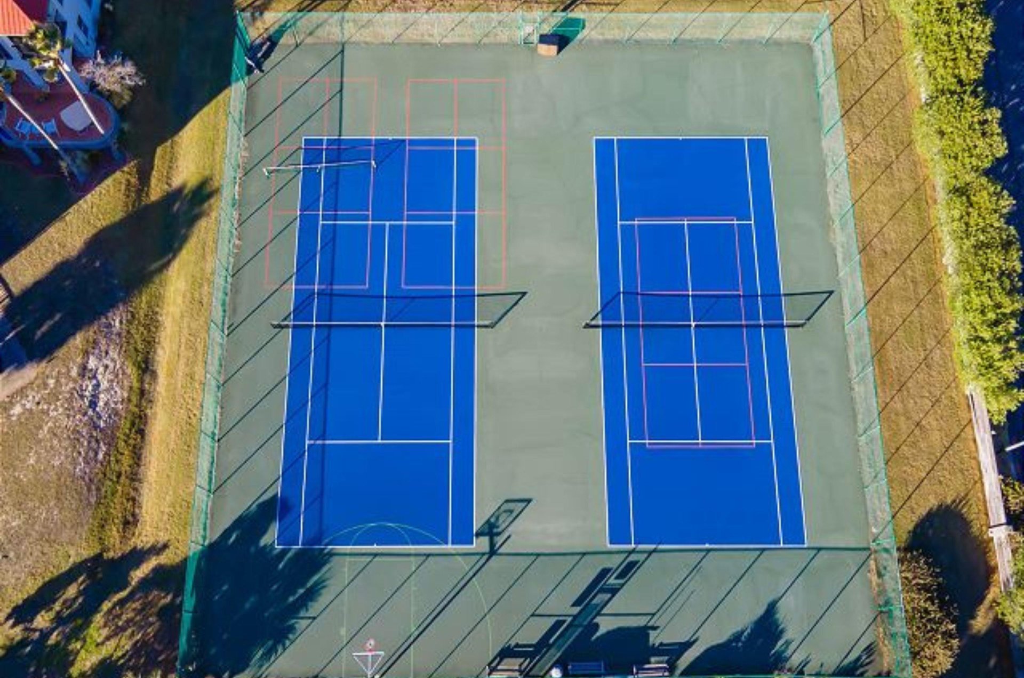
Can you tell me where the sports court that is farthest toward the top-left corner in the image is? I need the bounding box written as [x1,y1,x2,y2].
[264,78,377,288]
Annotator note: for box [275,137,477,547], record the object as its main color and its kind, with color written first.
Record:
blue tennis court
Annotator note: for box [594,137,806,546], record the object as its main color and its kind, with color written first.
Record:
blue tennis court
